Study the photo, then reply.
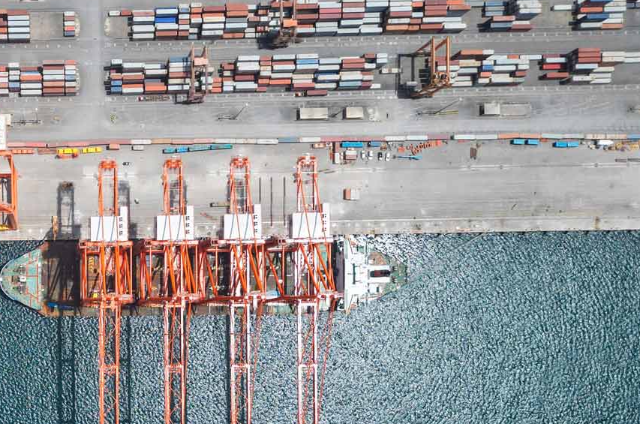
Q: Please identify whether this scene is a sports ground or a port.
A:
port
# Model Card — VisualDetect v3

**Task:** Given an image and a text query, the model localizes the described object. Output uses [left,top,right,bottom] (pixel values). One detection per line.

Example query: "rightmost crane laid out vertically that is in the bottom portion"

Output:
[251,156,342,424]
